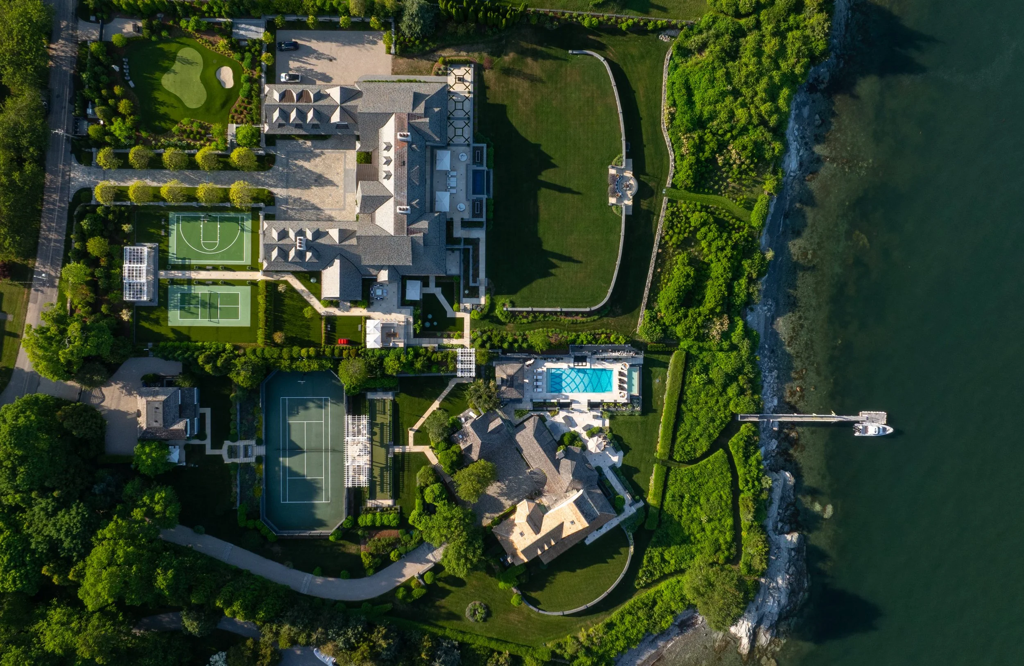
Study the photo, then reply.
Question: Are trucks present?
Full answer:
No, there isn't any truck down there.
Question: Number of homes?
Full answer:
Looking from above, you can make out 3 homes.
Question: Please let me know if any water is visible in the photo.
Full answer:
Yes, there's water in this view.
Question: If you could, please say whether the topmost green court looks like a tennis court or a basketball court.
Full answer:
Specifically, the topmost green court is a basketball court.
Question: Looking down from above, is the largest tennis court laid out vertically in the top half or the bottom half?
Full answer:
Seen from above, the largest tennis court laid out vertically lies in the bottom half of the view.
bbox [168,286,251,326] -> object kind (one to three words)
sports court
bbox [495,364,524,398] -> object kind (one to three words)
building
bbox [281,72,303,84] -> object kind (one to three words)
vehicle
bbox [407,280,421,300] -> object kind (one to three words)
umbrella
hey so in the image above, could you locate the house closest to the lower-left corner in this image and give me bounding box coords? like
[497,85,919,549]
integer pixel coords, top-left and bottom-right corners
[137,387,201,439]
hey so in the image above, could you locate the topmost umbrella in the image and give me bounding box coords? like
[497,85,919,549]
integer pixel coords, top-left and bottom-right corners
[437,151,450,170]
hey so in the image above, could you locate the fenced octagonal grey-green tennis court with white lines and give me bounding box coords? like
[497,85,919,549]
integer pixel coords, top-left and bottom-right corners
[265,370,344,532]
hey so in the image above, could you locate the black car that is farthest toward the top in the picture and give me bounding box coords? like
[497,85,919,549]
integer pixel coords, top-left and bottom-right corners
[277,40,300,52]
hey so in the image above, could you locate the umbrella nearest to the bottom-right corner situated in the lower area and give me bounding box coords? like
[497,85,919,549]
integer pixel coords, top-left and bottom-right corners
[587,437,603,453]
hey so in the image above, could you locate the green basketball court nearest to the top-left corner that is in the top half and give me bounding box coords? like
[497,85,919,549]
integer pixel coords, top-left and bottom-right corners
[169,212,251,265]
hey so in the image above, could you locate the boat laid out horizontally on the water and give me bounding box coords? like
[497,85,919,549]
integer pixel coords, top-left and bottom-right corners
[851,423,895,436]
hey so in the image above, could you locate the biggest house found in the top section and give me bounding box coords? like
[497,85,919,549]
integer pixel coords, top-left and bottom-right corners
[263,82,447,300]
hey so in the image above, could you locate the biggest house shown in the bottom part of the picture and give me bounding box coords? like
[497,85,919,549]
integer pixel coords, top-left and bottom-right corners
[450,407,617,578]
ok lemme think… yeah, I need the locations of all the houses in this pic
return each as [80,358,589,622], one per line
[450,407,617,578]
[263,82,447,300]
[137,387,201,439]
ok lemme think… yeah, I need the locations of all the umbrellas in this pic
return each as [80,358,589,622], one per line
[367,334,381,348]
[436,192,450,212]
[170,446,182,464]
[437,151,450,170]
[407,280,421,300]
[367,320,381,334]
[587,437,603,453]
